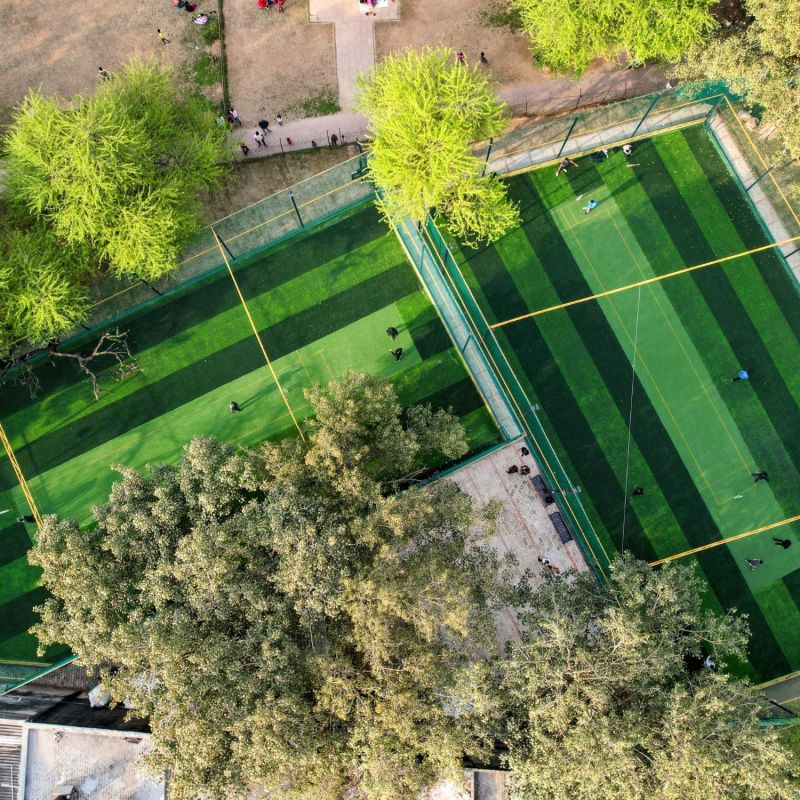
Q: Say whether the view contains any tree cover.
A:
Yes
